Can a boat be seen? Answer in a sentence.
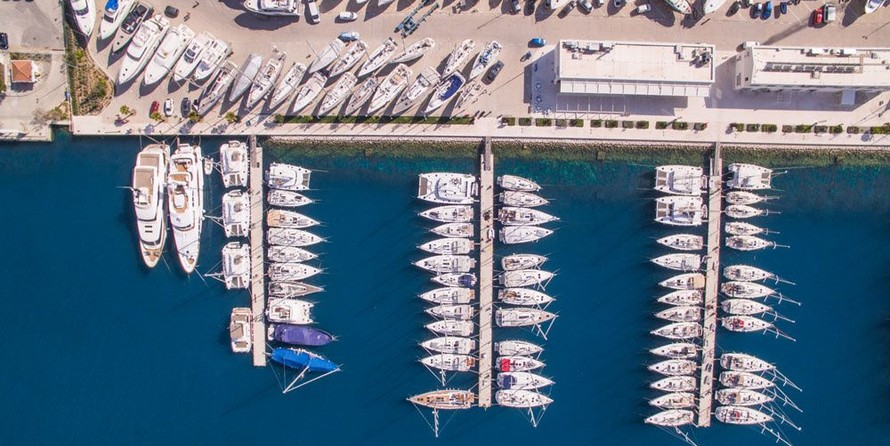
Yes, looking at the shot, I can spot a boat.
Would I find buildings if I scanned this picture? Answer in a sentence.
Yes, there's a building down there.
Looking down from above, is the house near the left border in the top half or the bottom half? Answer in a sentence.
The house near the left border sits in the top half of the picture.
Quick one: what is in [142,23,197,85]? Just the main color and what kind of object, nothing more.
white boat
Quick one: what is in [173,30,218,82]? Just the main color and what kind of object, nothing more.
white boat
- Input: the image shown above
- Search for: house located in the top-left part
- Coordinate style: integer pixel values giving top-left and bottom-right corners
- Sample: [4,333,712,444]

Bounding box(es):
[11,61,43,83]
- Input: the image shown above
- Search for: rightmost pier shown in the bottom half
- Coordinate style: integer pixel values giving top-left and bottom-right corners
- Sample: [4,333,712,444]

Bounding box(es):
[698,158,721,427]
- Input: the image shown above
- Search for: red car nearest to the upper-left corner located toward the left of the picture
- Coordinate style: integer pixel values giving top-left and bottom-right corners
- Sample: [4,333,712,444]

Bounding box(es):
[148,99,161,117]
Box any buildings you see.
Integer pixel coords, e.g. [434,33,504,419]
[11,61,43,83]
[734,46,890,106]
[554,40,716,117]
